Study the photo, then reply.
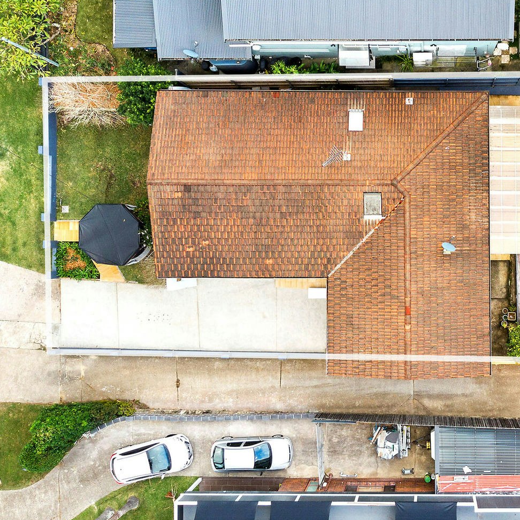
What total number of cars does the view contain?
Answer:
2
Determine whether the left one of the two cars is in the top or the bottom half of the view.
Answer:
bottom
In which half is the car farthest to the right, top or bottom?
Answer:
bottom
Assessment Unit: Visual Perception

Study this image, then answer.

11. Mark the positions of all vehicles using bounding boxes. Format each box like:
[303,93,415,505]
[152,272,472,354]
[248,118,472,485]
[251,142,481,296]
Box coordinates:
[210,435,292,478]
[105,435,197,487]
